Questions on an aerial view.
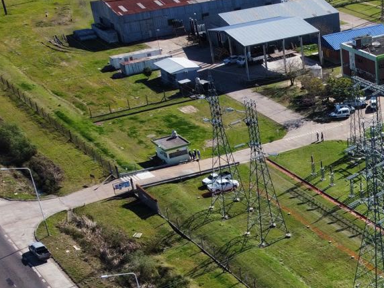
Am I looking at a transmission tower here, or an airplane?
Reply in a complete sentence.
Looking from above, you can make out a transmission tower.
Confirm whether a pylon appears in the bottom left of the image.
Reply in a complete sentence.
No, in the bottom left of the image there is no pylon.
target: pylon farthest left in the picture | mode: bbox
[194,78,253,218]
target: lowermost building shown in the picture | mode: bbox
[148,131,192,162]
